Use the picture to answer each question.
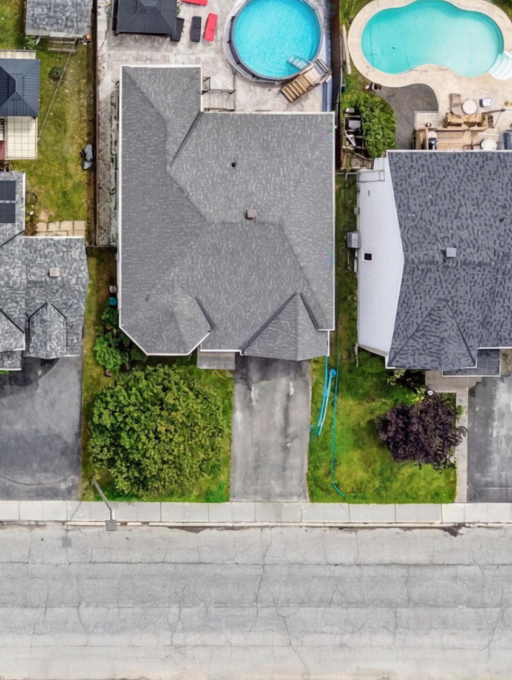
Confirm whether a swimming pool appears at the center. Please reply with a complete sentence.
No, I see no swimming pool at the center.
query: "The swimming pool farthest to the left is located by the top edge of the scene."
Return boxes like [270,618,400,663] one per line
[224,0,324,84]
